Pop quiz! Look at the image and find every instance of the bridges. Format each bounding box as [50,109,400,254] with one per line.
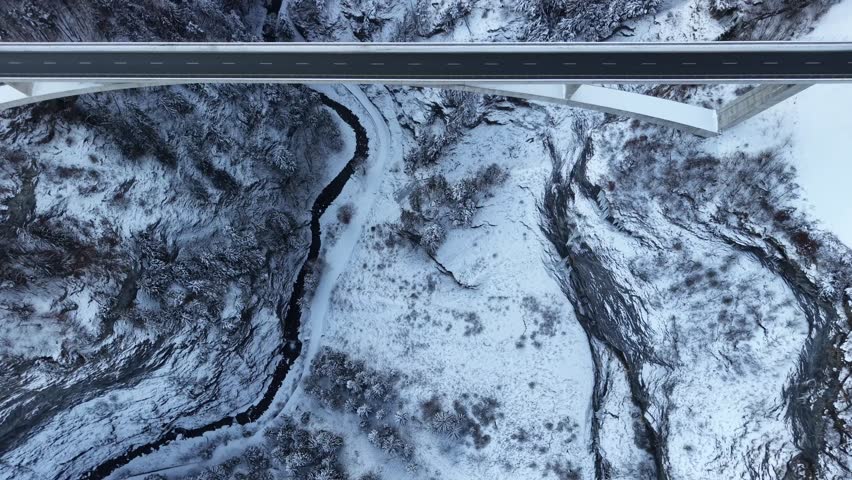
[0,42,852,139]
